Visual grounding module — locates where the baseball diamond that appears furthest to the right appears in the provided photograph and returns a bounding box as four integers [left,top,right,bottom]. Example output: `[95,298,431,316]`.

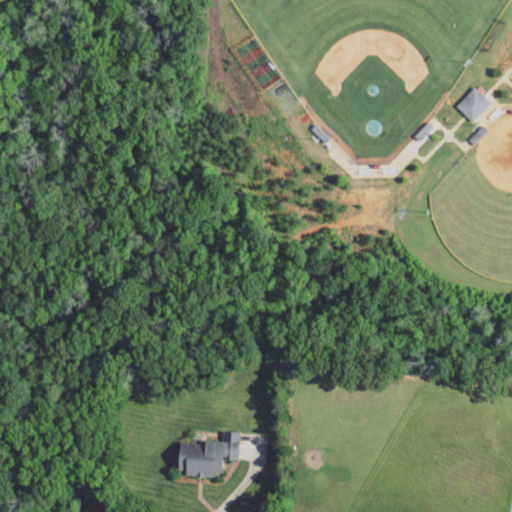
[430,112,512,282]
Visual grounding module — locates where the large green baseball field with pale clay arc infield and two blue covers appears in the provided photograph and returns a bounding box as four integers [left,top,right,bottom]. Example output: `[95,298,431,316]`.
[232,0,510,166]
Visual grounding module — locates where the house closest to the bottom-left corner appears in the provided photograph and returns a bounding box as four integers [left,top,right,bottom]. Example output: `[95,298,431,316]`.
[179,432,241,480]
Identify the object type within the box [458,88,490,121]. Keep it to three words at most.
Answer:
building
